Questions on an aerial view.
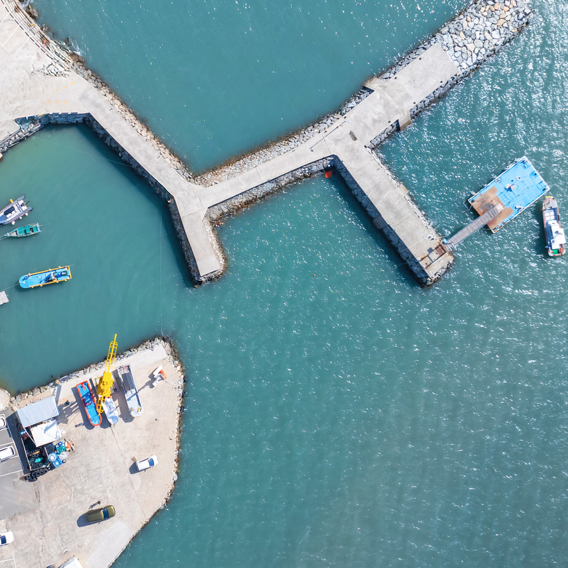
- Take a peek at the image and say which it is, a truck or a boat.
boat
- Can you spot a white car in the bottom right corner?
No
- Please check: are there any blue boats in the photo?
Yes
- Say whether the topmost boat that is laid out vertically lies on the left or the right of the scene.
right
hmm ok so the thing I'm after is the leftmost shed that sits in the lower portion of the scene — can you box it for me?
[16,395,62,471]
